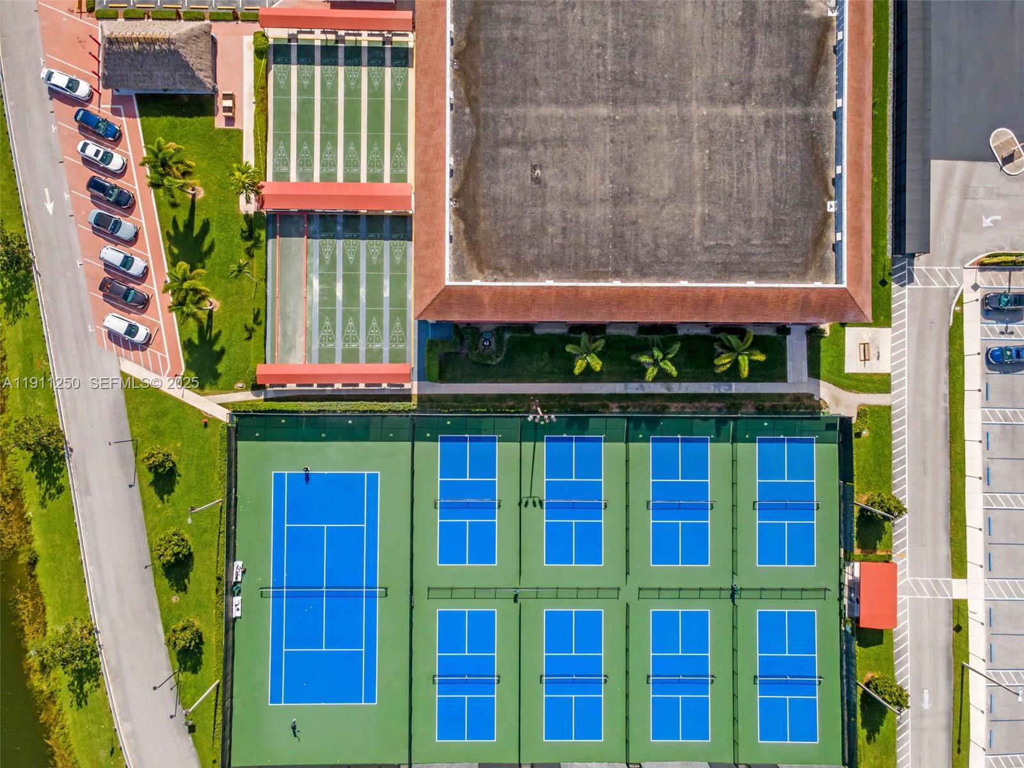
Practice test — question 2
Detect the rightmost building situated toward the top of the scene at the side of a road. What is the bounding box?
[413,0,875,324]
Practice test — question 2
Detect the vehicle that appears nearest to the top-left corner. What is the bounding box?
[39,67,95,102]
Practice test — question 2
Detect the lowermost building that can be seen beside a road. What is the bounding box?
[842,560,897,630]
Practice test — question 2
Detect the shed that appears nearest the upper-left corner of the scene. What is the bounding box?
[102,21,221,96]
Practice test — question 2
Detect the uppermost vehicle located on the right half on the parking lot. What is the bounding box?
[980,290,1024,313]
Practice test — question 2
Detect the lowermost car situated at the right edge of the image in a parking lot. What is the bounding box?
[984,343,1024,366]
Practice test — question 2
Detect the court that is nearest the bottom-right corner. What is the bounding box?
[757,610,819,743]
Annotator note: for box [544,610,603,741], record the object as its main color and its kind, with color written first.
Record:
blue sports court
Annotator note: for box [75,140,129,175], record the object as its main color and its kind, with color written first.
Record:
white car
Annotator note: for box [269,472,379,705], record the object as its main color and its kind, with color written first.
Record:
blue tennis court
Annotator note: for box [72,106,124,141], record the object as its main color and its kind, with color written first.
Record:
blue car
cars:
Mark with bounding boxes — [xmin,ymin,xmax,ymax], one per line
[85,208,141,243]
[96,275,152,310]
[984,343,1024,366]
[83,174,138,209]
[39,67,95,102]
[96,244,151,278]
[75,140,129,175]
[99,311,154,346]
[980,290,1024,313]
[72,106,124,141]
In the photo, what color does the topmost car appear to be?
white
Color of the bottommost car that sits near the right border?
blue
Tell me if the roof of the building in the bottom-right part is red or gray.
red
